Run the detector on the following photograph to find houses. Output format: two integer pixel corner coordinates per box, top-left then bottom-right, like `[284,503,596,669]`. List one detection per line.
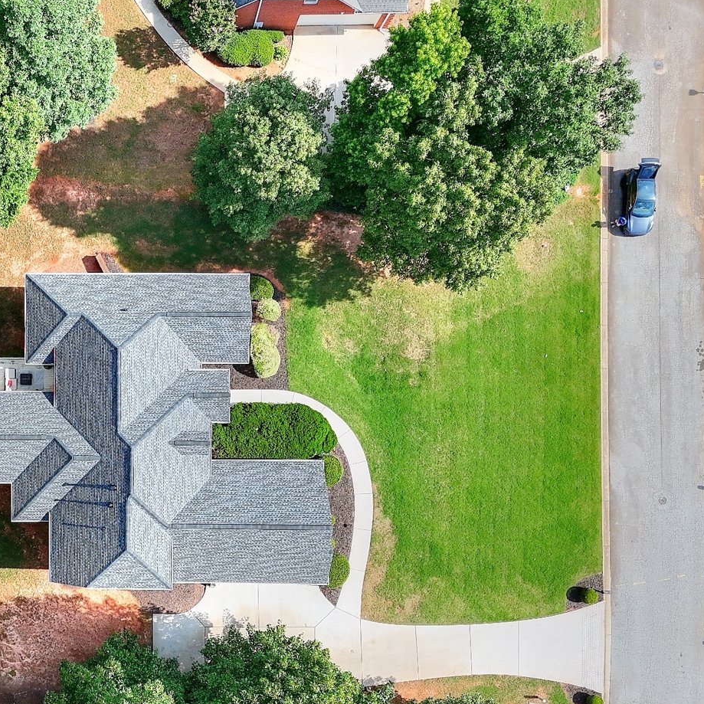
[230,0,411,31]
[0,272,334,590]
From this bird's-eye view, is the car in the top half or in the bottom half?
top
